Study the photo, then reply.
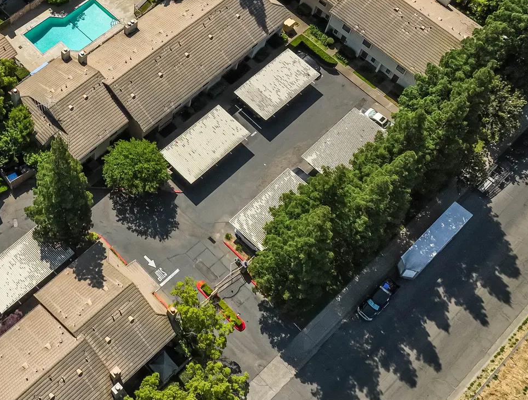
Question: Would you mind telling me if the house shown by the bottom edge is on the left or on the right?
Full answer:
The house shown by the bottom edge appears in the left half of the scene.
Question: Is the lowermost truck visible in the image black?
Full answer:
Yes, black is the color of the lowermost truck.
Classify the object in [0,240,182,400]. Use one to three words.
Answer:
house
